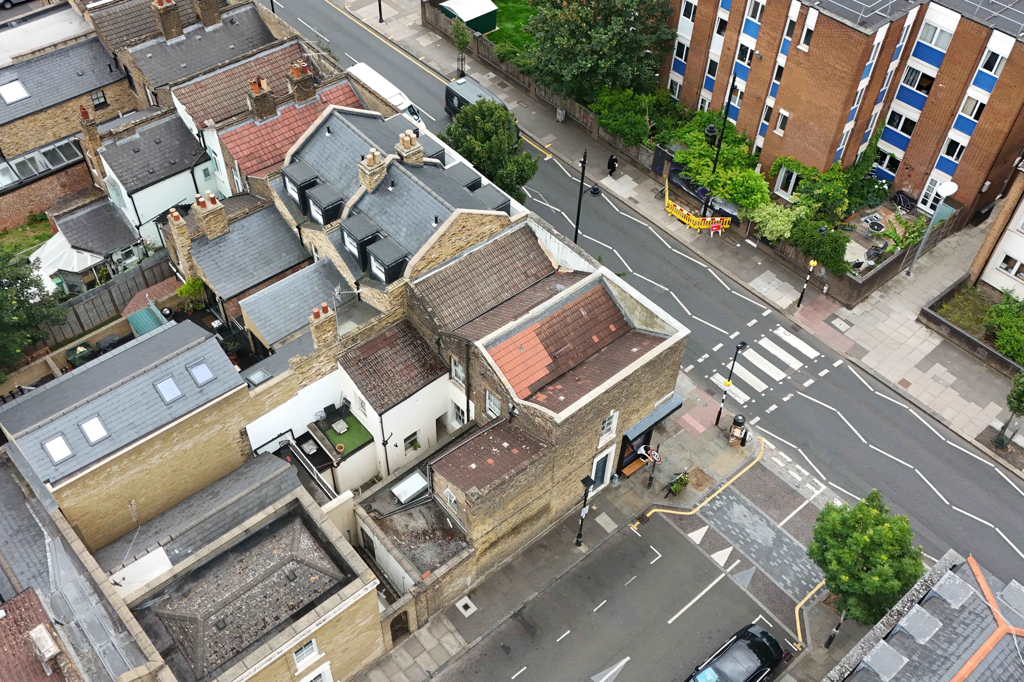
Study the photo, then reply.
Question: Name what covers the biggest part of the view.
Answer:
buildings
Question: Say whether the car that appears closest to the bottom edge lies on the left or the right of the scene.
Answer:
right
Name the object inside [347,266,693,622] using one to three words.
house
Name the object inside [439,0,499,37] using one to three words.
shed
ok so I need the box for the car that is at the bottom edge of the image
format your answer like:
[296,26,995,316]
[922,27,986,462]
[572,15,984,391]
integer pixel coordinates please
[690,622,790,682]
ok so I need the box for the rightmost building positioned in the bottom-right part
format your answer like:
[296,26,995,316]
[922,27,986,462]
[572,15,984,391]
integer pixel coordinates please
[822,549,1024,682]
